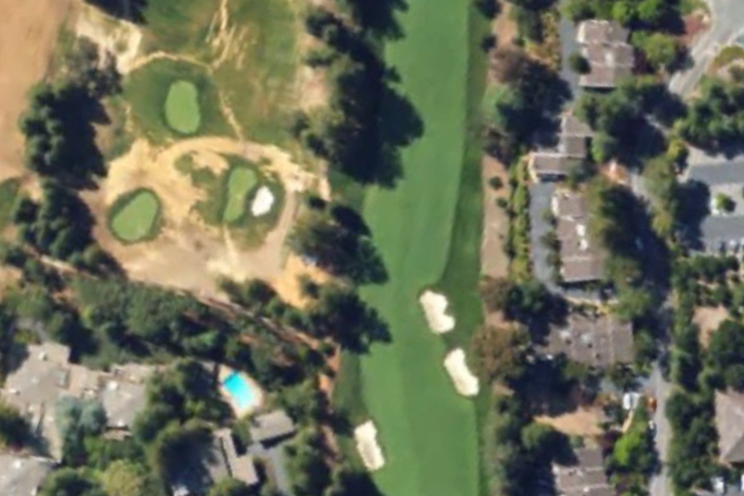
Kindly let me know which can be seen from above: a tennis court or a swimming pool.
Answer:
swimming pool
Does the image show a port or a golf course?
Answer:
golf course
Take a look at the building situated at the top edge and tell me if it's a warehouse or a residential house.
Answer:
residential house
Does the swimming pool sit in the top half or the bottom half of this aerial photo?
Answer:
bottom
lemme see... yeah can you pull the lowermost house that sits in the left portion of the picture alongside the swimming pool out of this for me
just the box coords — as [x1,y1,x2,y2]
[206,429,262,486]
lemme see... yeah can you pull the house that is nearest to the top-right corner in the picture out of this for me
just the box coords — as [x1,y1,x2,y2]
[577,20,633,88]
